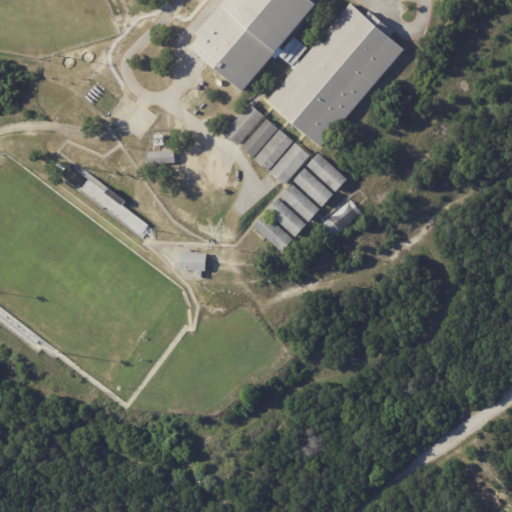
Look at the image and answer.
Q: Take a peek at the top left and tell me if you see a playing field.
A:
Yes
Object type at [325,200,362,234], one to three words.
house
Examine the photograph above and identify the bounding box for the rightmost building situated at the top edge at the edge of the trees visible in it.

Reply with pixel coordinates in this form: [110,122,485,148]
[268,3,404,145]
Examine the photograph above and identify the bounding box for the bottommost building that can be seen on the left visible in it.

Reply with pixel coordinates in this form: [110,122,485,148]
[178,253,206,278]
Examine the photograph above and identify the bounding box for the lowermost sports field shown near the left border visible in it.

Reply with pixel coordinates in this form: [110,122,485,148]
[0,153,186,400]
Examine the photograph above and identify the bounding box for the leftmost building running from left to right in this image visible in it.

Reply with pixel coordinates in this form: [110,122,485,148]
[147,150,174,164]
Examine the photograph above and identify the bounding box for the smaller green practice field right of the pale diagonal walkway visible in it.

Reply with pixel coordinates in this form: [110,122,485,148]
[131,308,283,409]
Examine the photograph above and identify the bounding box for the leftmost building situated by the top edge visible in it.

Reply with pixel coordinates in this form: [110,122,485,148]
[190,0,314,88]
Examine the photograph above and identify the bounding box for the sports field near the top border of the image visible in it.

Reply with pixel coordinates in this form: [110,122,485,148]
[0,0,121,55]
